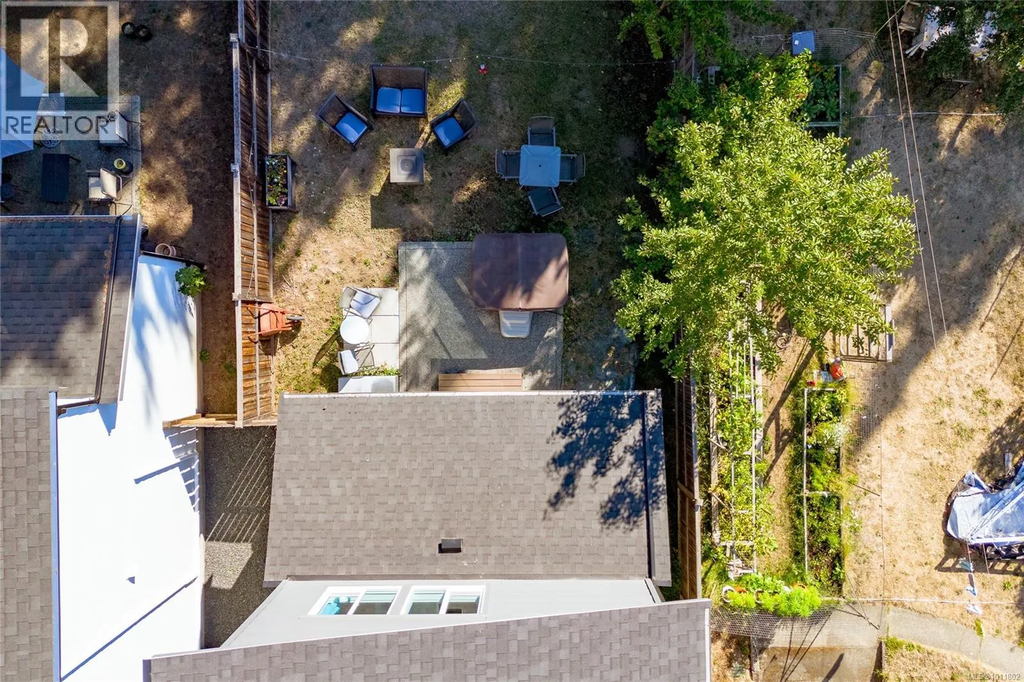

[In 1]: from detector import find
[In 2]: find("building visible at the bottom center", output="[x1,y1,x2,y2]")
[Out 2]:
[145,390,715,682]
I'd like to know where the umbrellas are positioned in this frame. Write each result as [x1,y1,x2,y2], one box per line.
[0,49,61,161]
